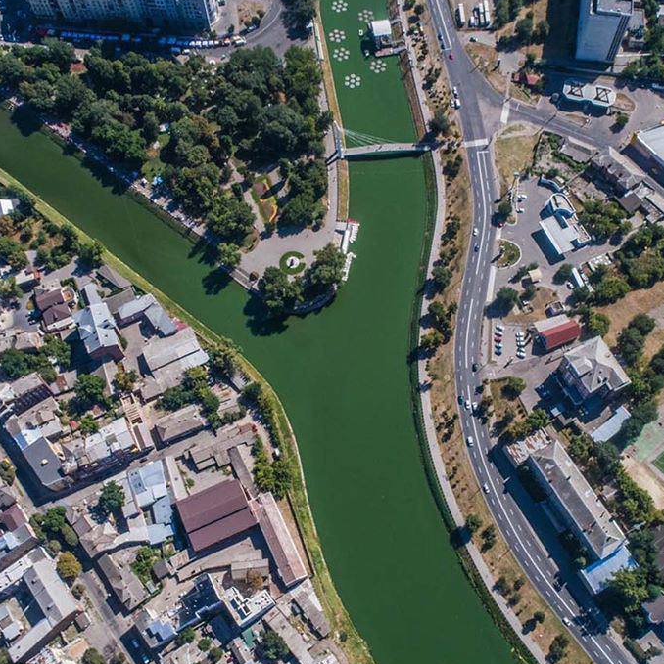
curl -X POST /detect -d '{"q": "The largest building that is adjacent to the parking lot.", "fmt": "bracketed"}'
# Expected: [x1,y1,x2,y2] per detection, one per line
[526,440,626,563]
